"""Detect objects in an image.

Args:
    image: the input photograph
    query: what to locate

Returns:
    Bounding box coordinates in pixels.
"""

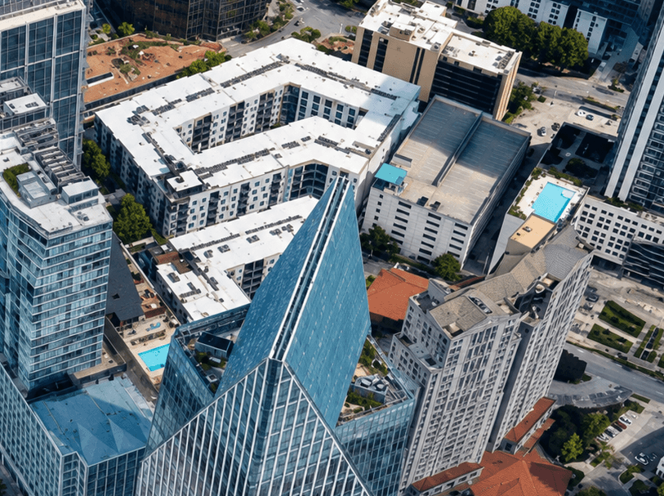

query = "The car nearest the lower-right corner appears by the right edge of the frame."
[633,452,650,465]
